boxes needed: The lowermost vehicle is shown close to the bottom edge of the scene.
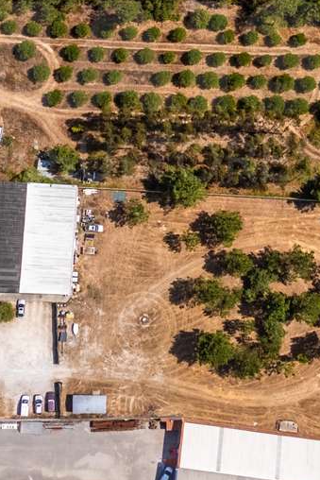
[158,465,171,480]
